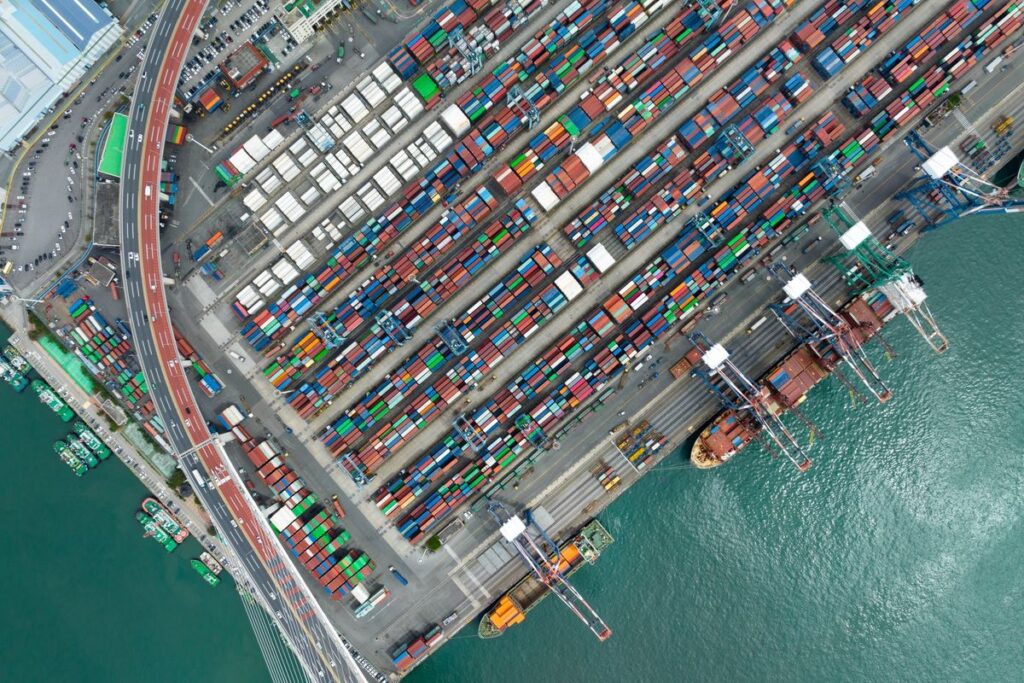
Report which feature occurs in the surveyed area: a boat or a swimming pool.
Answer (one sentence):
There is a boat in the scene.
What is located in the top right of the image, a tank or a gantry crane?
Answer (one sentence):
The one visible in the top right of the image is a gantry crane.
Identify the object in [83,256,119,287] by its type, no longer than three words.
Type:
building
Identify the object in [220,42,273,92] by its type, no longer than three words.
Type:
building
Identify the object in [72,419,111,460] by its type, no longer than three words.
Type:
boat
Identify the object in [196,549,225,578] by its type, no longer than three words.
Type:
ship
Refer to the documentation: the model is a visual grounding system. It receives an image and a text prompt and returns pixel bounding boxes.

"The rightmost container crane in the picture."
[890,138,1024,233]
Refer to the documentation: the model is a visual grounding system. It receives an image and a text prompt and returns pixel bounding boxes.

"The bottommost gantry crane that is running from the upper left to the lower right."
[485,499,609,642]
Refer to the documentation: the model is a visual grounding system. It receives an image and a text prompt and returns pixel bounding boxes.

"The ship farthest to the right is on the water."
[1000,156,1024,196]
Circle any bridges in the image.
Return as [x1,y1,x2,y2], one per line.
[120,0,372,683]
